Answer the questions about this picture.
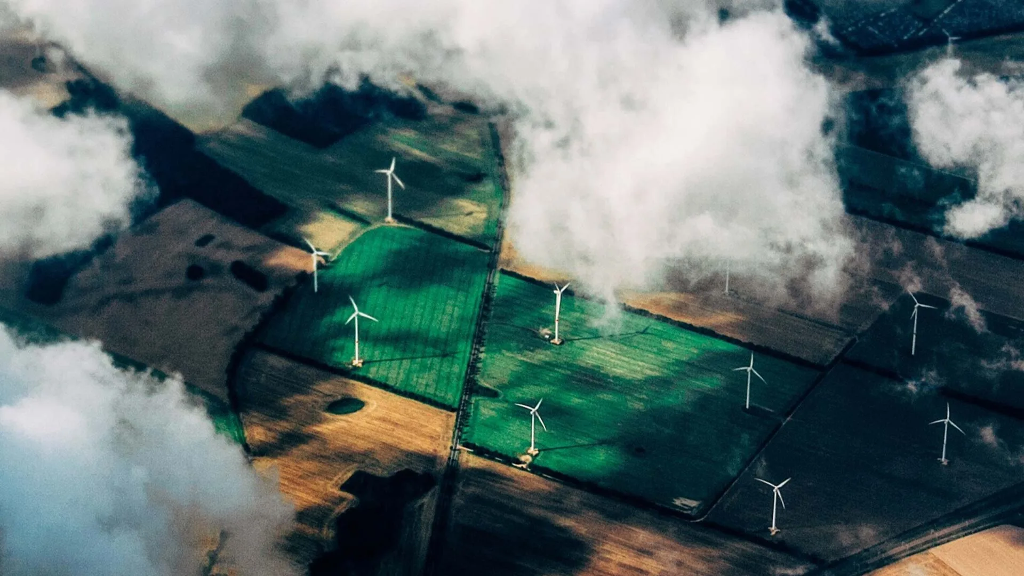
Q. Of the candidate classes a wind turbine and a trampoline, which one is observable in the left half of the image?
wind turbine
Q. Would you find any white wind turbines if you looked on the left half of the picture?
Yes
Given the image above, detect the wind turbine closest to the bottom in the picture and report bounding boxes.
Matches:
[757,477,790,530]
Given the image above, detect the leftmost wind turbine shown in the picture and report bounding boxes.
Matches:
[304,237,330,293]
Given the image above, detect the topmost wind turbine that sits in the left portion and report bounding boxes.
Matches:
[376,158,404,219]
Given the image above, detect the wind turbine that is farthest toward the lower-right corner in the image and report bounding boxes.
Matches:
[929,401,966,462]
